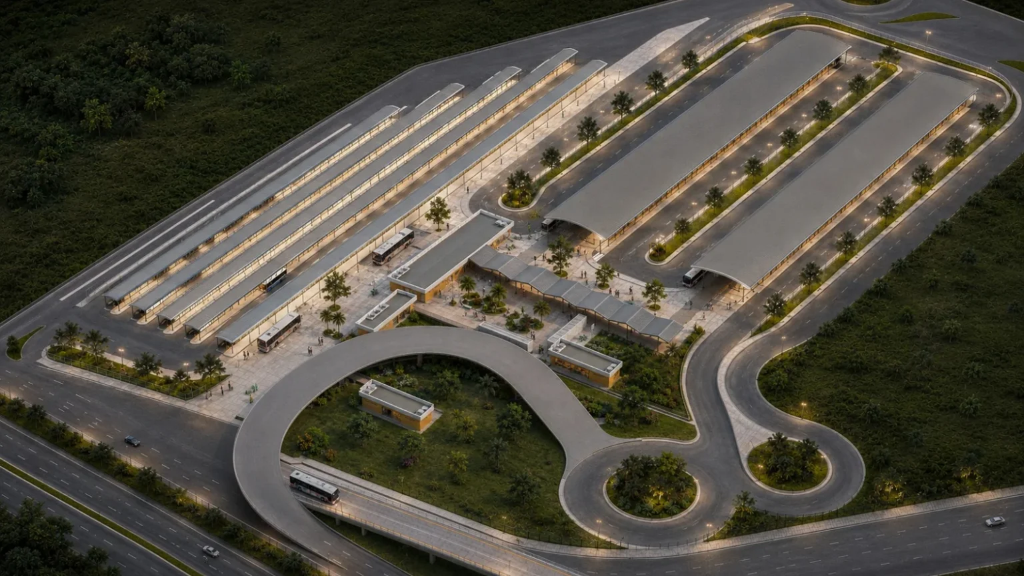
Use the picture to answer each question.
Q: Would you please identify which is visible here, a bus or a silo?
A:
bus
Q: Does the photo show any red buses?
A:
No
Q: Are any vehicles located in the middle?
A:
Yes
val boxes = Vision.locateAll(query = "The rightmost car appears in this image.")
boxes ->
[982,514,1008,527]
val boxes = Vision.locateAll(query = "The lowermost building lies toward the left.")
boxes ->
[356,379,437,429]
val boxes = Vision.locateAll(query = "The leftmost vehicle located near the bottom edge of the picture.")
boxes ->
[199,542,222,559]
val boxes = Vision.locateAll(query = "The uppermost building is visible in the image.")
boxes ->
[388,209,515,304]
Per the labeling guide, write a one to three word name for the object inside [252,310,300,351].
bus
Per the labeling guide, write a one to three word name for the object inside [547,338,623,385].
building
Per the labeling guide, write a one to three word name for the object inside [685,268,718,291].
bus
